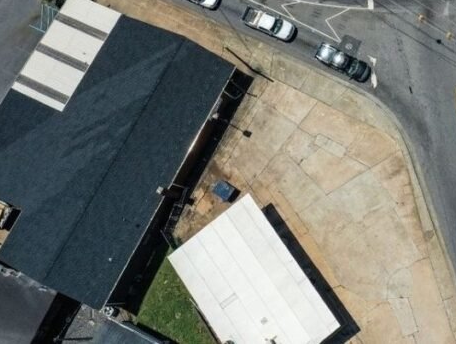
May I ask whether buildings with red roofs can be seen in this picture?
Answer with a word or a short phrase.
No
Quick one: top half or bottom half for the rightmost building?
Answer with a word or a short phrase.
bottom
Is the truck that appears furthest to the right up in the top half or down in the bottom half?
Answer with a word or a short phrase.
top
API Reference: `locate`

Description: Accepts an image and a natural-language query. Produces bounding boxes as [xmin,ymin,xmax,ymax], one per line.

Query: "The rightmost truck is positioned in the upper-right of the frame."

[314,42,372,80]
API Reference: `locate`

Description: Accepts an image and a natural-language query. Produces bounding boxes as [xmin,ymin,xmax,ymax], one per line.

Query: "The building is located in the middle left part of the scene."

[0,0,240,311]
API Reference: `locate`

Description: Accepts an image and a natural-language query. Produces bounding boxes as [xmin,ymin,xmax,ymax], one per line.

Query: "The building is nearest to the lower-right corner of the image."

[168,194,347,344]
